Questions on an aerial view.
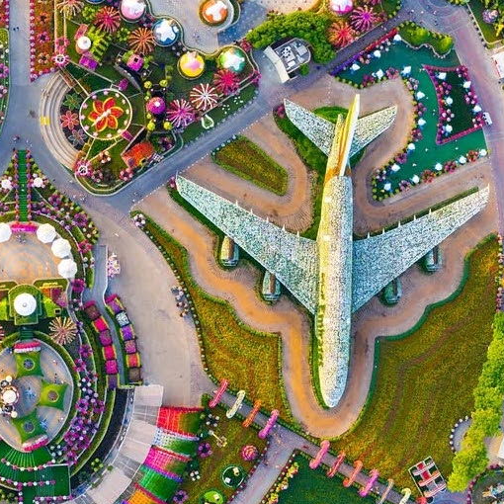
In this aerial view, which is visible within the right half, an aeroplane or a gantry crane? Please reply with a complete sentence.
You can see an aeroplane within the right half.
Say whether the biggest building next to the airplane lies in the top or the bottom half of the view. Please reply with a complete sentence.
The biggest building next to the airplane is in the top half of the image.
